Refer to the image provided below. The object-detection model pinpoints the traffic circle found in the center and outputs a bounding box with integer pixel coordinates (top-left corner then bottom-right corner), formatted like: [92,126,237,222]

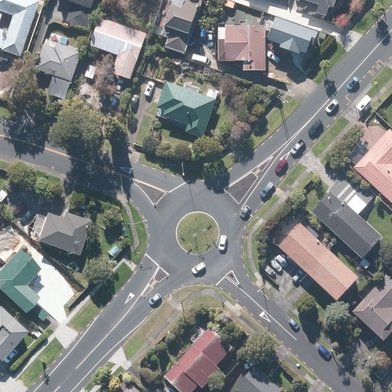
[176,210,219,254]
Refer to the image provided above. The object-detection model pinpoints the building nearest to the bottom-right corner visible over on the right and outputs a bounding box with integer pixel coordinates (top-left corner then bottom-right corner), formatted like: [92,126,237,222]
[352,274,392,340]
